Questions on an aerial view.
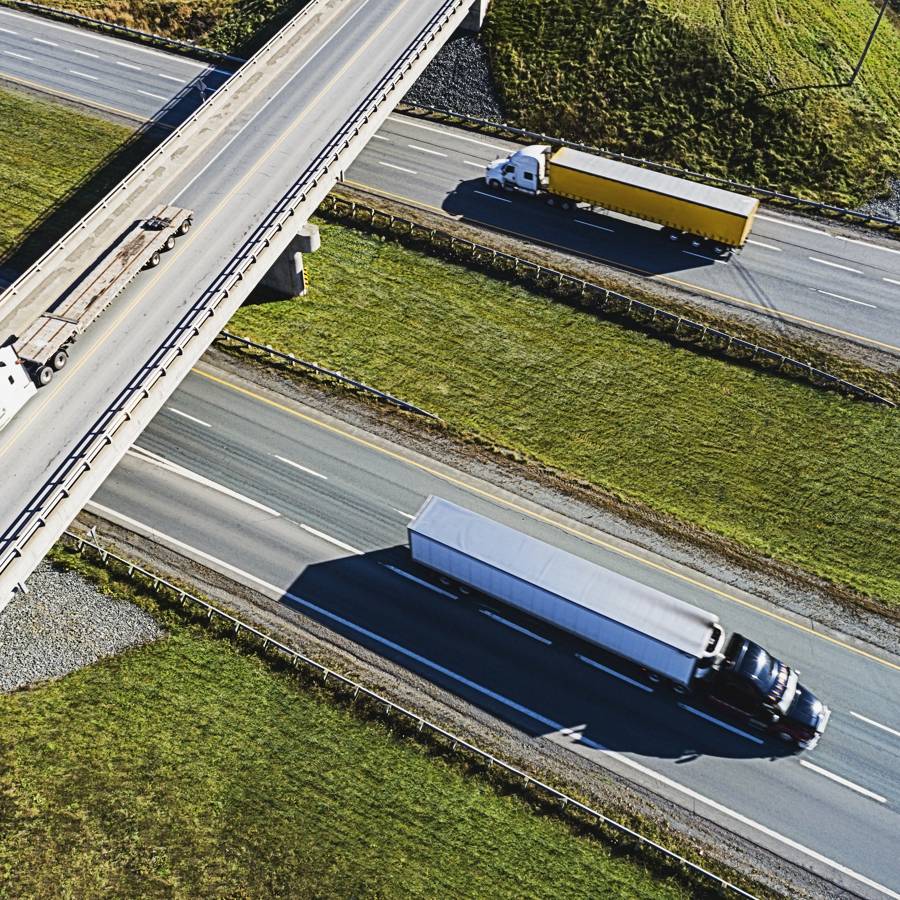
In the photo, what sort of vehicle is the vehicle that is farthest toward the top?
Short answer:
truck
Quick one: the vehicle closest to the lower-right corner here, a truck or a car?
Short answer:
truck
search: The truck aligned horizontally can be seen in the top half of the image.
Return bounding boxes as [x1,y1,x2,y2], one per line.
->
[486,146,758,256]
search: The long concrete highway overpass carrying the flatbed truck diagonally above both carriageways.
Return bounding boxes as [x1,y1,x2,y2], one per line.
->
[0,0,502,601]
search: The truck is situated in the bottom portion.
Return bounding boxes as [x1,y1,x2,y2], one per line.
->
[407,495,830,750]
